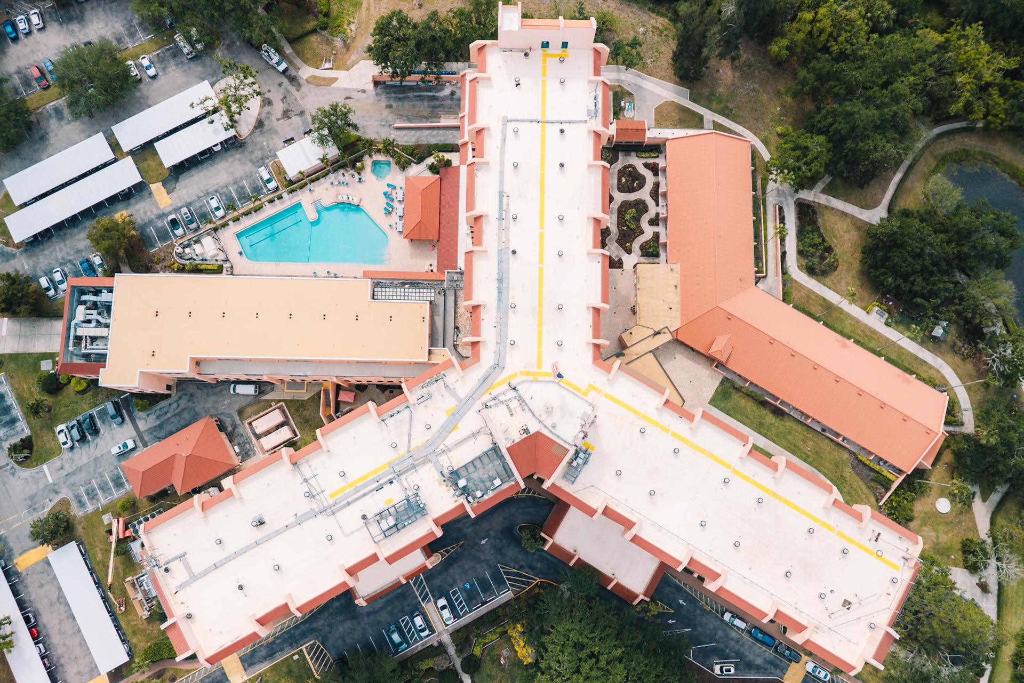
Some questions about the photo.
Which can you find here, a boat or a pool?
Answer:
pool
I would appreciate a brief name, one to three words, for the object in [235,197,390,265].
swimming pool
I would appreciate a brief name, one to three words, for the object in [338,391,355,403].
umbrella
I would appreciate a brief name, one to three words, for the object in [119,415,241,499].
house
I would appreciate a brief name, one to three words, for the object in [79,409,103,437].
car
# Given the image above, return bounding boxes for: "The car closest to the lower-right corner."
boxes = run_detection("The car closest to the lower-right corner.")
[802,658,832,683]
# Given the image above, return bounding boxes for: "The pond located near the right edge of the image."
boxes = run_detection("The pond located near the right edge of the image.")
[940,164,1024,329]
